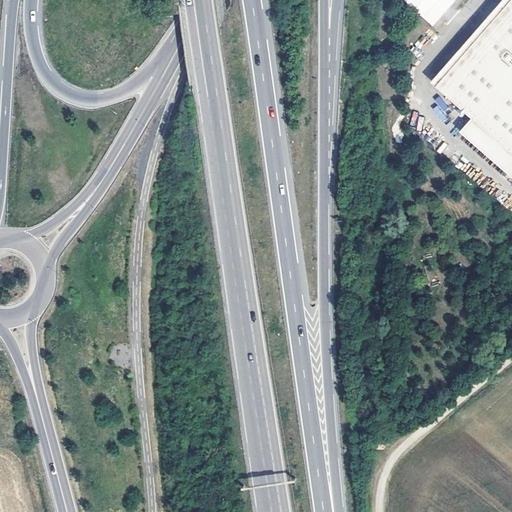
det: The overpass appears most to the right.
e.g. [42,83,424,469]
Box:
[174,0,232,132]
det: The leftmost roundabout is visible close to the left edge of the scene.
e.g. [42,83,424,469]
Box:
[0,229,55,328]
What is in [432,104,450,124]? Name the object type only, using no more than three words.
vehicle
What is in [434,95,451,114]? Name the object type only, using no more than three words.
vehicle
